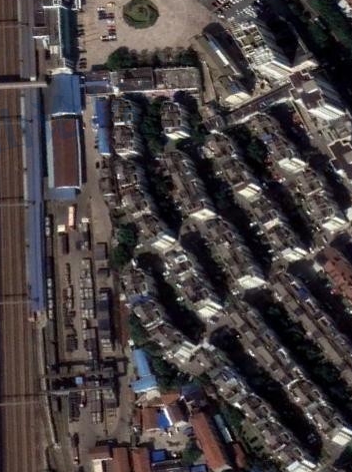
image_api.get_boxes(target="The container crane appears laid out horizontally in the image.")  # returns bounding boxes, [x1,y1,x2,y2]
[43,370,114,400]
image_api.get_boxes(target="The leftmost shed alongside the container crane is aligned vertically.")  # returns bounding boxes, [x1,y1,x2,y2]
[99,291,113,351]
